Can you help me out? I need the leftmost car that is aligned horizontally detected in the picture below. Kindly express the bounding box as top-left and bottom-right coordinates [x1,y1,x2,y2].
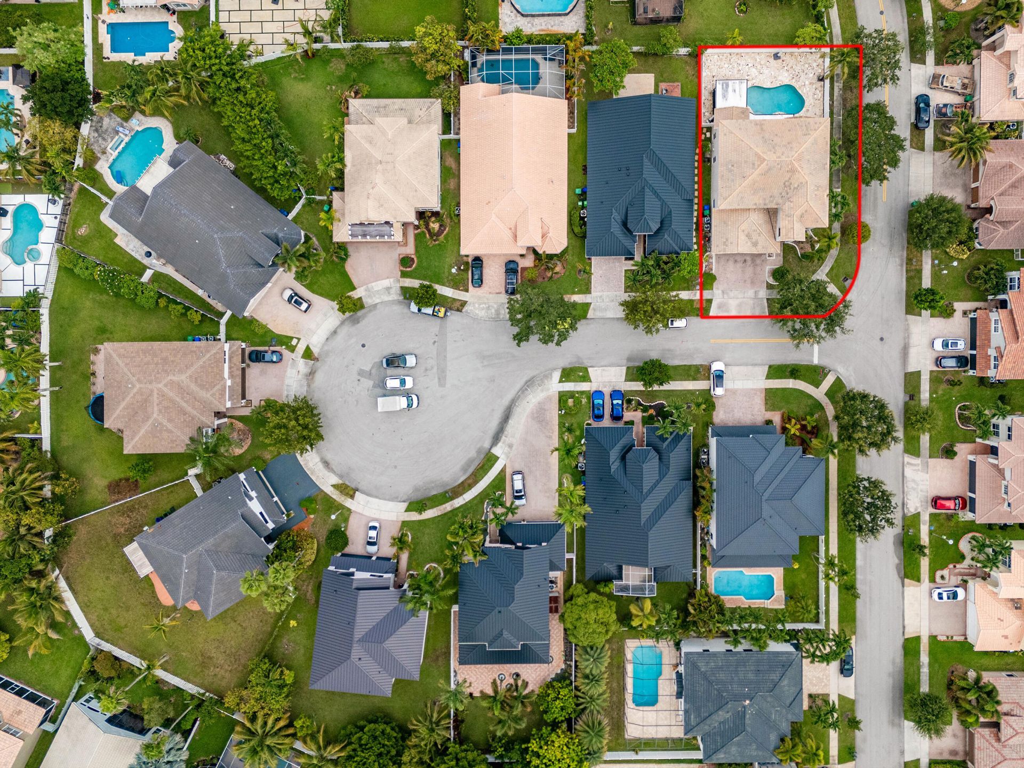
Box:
[250,349,281,364]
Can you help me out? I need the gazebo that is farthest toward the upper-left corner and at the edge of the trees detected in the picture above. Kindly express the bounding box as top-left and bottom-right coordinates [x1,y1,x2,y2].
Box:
[12,65,37,91]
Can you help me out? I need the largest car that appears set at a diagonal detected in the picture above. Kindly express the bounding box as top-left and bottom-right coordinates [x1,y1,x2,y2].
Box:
[281,287,312,313]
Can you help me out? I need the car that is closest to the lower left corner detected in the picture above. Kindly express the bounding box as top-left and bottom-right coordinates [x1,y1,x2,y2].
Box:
[364,521,380,554]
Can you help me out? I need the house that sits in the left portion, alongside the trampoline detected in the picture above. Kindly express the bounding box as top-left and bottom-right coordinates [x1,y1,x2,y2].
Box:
[103,341,248,454]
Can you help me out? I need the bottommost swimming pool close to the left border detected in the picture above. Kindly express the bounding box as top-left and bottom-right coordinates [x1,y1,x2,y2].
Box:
[0,367,40,395]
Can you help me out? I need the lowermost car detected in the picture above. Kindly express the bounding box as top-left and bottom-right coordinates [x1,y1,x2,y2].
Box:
[838,646,855,677]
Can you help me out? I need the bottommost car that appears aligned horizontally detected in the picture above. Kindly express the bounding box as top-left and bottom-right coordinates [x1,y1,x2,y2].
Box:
[929,586,964,602]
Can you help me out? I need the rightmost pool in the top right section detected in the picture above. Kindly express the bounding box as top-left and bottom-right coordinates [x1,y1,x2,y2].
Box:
[747,83,806,115]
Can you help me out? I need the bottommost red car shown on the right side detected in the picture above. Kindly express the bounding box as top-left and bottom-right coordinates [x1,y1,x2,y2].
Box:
[930,496,965,512]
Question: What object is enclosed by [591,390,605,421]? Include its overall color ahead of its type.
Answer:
blue car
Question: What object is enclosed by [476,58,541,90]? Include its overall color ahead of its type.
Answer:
blue swimming pool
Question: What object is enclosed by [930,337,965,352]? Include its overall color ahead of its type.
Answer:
white car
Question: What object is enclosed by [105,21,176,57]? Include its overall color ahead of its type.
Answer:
blue swimming pool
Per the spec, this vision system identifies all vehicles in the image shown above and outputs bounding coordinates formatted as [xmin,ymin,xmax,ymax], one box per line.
[928,74,975,96]
[657,317,689,330]
[469,257,484,288]
[609,390,625,421]
[511,471,526,504]
[933,354,967,370]
[930,496,965,512]
[410,301,451,320]
[930,102,970,119]
[364,521,380,554]
[376,394,420,412]
[384,375,413,390]
[250,349,281,364]
[281,287,312,313]
[913,95,931,130]
[929,586,964,602]
[383,353,416,369]
[930,337,965,352]
[838,646,855,677]
[709,363,726,396]
[504,260,520,297]
[591,390,605,421]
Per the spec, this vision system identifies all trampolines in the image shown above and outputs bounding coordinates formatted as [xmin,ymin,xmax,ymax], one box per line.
[86,394,103,423]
